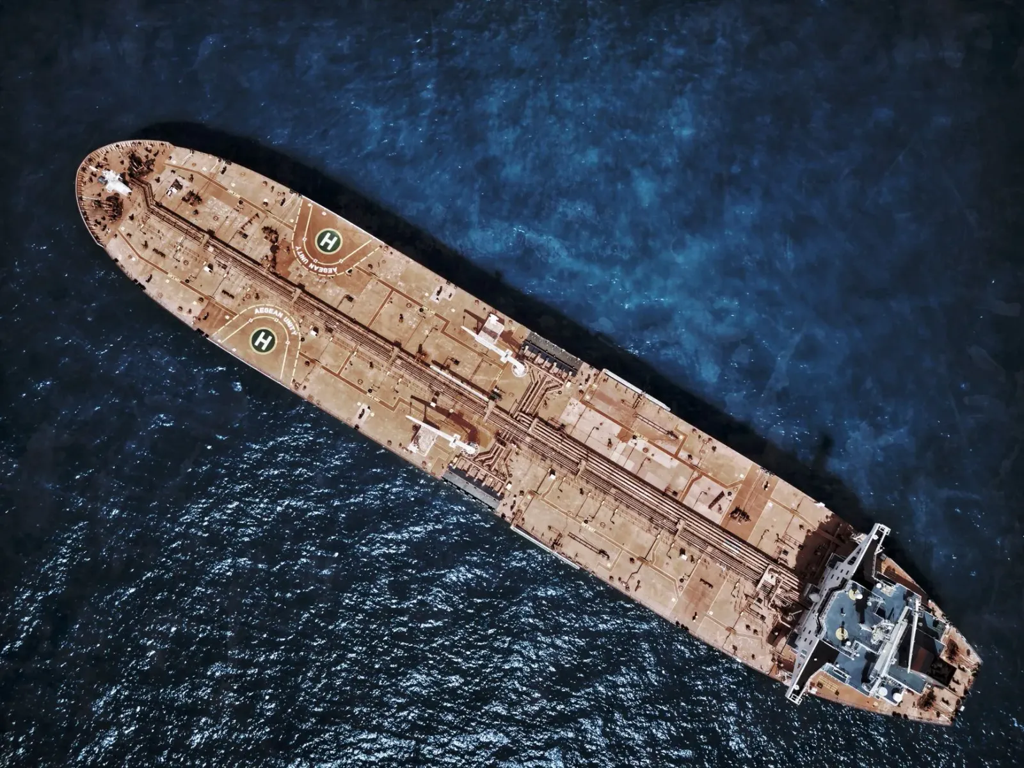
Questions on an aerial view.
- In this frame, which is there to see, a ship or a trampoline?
ship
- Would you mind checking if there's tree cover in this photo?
No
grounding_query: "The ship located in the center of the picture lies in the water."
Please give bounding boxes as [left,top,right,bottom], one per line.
[76,140,984,725]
